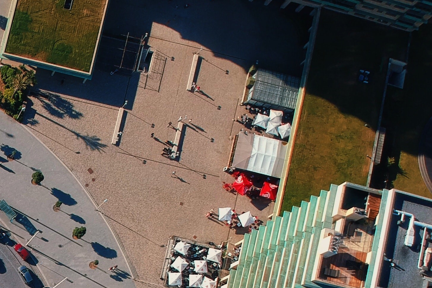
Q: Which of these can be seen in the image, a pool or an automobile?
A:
automobile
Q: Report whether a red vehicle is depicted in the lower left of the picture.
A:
Yes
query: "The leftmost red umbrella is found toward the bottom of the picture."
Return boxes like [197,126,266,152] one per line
[231,170,254,190]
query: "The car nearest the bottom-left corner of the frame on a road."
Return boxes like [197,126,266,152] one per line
[16,265,33,286]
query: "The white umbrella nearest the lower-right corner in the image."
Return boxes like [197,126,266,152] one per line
[238,209,257,228]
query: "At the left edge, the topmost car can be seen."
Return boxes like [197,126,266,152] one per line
[14,243,30,262]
